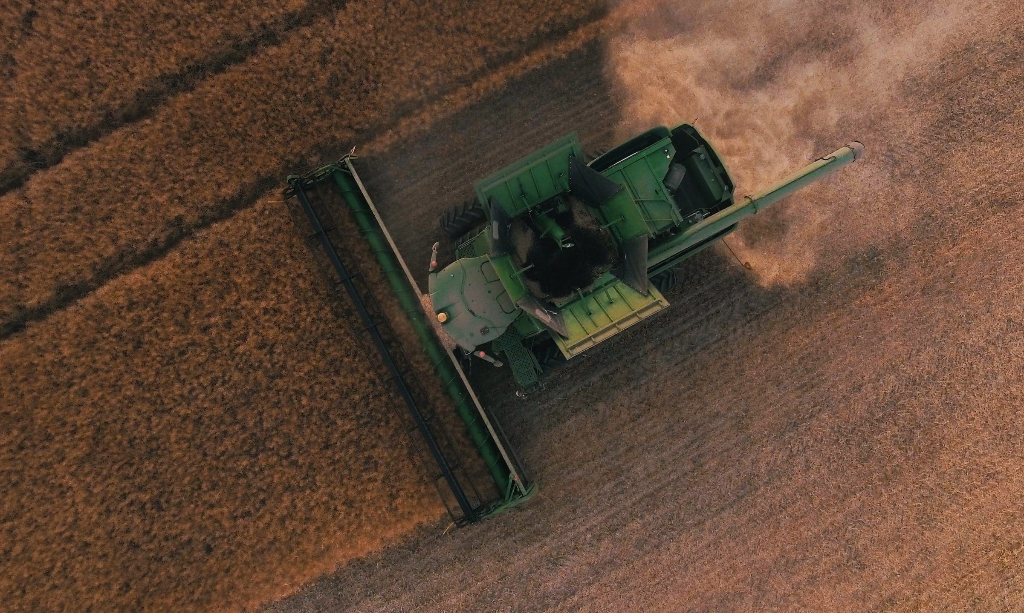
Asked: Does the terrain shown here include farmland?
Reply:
Yes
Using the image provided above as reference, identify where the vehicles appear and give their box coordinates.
[270,118,860,535]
